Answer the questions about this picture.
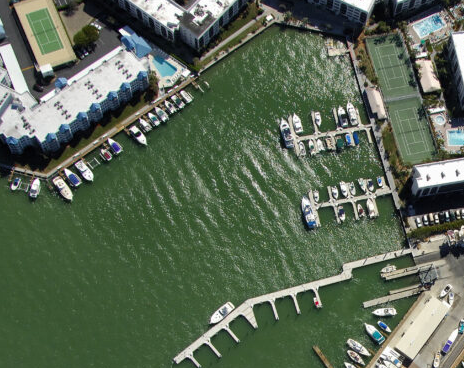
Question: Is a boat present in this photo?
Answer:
Yes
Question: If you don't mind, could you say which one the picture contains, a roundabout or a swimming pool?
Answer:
swimming pool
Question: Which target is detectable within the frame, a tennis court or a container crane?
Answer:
tennis court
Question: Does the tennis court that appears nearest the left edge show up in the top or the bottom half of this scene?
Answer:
top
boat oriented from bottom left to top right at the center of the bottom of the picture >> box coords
[209,301,236,323]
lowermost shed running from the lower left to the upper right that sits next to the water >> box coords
[394,296,451,361]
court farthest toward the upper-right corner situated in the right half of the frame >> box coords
[366,27,420,100]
